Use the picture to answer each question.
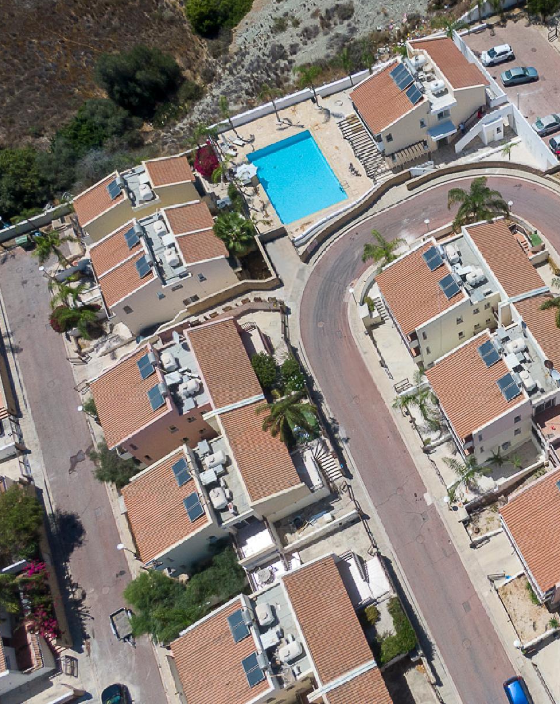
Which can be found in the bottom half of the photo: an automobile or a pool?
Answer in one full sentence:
Visible in the bottom half of the photo is an automobile.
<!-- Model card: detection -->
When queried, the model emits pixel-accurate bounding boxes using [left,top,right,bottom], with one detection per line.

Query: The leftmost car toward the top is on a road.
[477,38,513,64]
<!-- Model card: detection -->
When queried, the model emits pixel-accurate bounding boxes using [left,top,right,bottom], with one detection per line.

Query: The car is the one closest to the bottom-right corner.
[498,661,537,704]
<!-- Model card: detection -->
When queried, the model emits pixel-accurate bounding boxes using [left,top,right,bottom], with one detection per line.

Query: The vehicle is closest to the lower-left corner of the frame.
[95,673,126,704]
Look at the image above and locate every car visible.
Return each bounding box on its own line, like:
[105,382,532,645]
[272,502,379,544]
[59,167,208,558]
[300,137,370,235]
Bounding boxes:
[498,661,537,704]
[477,38,513,64]
[499,61,538,82]
[95,673,126,704]
[530,108,560,133]
[544,130,560,152]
